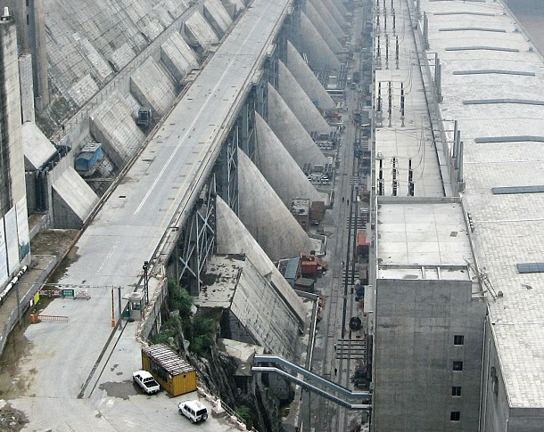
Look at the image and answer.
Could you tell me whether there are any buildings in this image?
Yes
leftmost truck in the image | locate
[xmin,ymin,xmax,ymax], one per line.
[125,367,158,390]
